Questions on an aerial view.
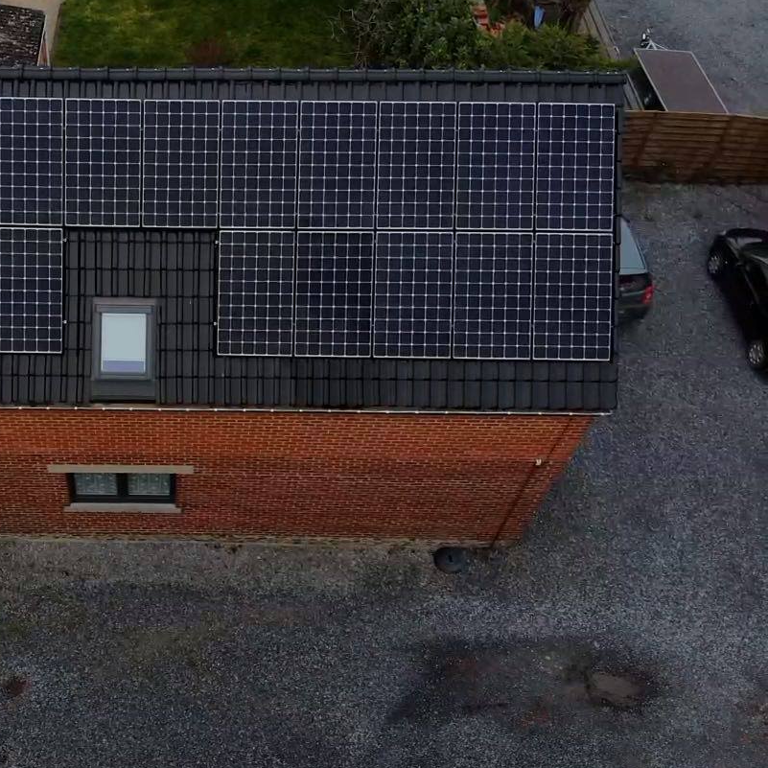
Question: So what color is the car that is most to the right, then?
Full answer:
In this view, the car that is most to the right is black.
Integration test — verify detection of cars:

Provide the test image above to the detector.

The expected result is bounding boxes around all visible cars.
[617,207,657,325]
[709,234,768,373]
